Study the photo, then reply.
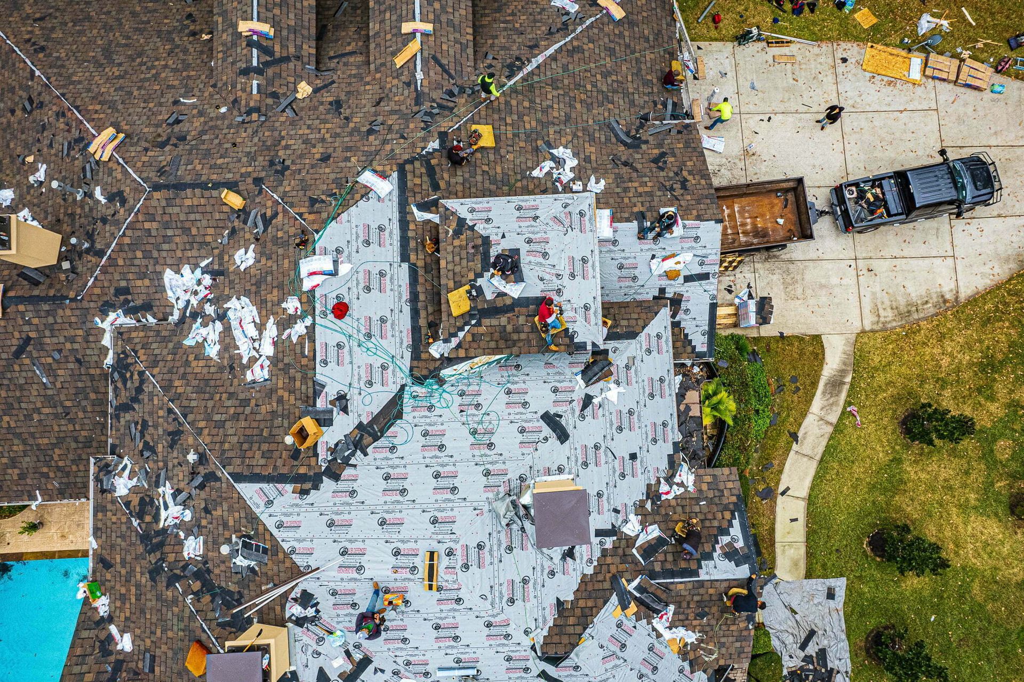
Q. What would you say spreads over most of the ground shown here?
buildings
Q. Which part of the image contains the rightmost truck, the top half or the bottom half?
top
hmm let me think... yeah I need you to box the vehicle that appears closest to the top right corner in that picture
[830,140,1007,239]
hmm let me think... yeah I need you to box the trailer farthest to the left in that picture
[712,175,833,258]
